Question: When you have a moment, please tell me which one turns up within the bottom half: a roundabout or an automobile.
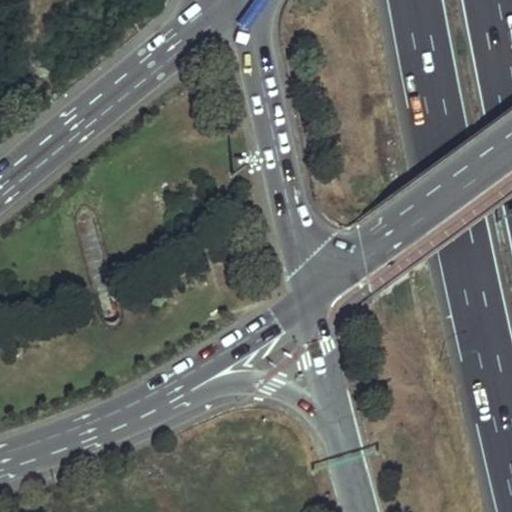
automobile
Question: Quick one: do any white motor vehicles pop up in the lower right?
Yes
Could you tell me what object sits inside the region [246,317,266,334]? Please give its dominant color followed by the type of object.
white car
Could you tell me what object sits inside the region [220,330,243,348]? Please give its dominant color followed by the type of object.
white vehicle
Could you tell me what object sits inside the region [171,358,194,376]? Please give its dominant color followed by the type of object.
white vehicle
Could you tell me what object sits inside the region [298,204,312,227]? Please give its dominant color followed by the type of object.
white car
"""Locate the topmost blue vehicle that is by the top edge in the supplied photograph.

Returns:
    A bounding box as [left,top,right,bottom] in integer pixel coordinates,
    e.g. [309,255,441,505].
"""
[234,0,268,46]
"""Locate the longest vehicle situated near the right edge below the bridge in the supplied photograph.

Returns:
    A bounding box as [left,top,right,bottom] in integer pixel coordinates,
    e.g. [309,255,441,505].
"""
[472,382,492,422]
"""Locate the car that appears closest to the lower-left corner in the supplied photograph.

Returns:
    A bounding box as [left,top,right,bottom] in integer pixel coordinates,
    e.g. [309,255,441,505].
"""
[146,374,168,390]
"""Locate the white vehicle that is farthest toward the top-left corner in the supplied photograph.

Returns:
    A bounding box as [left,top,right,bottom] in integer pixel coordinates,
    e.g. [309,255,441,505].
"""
[146,34,166,51]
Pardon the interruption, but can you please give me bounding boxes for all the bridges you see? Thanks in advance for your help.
[350,113,512,310]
